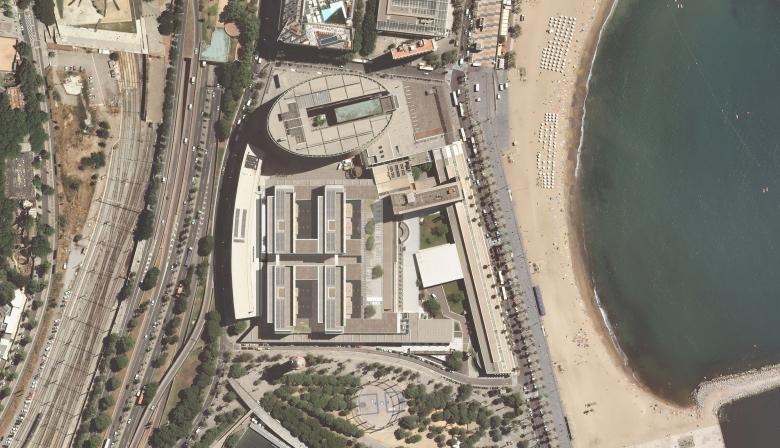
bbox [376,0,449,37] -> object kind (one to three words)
building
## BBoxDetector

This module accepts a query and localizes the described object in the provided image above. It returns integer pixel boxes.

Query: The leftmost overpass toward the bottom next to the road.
[126,236,216,448]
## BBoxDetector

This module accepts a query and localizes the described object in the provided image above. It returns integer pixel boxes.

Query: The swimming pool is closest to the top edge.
[321,0,342,21]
